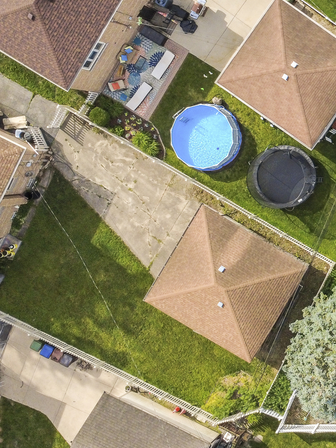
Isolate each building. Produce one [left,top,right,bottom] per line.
[141,202,313,365]
[0,0,153,92]
[0,123,55,253]
[214,0,336,151]
[64,384,224,448]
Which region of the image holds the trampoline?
right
